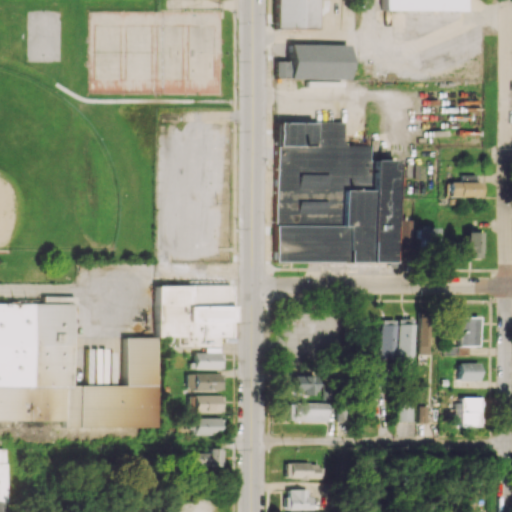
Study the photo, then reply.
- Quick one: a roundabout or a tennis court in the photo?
tennis court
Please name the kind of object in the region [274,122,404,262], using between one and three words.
building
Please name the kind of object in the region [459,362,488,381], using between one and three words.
house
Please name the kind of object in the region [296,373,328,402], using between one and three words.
house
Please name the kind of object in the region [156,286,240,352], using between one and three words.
building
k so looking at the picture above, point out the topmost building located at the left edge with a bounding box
[0,296,158,429]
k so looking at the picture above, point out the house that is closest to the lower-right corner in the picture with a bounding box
[453,397,485,428]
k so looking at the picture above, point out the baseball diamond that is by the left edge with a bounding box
[0,62,115,253]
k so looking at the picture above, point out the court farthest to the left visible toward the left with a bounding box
[27,11,62,62]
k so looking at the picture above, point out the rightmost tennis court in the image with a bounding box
[88,11,222,96]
